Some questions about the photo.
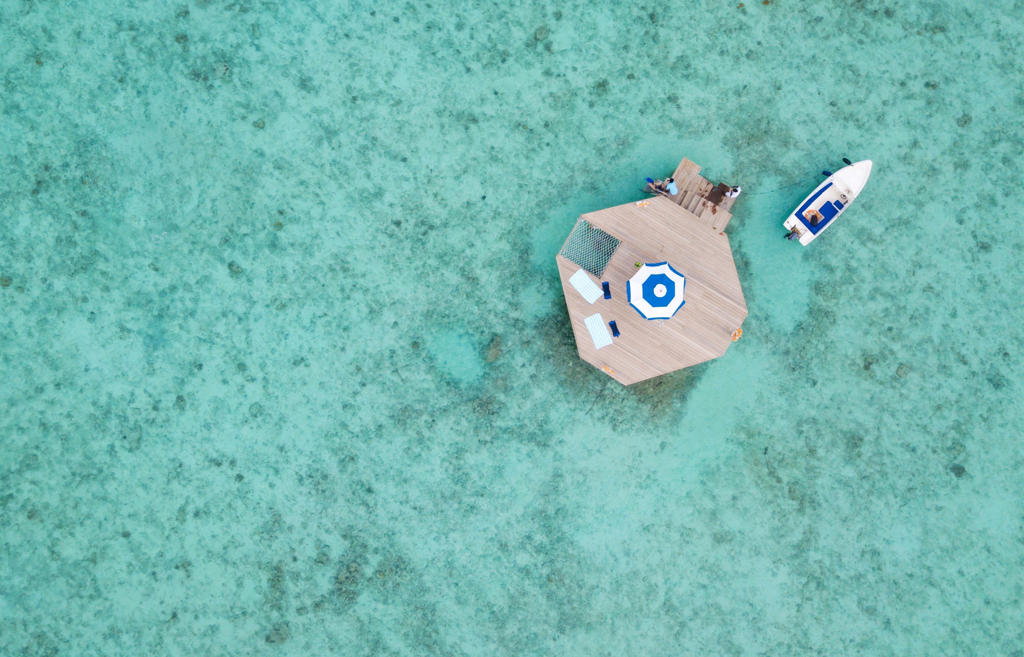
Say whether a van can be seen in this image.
No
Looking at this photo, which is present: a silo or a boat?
boat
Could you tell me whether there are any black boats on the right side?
No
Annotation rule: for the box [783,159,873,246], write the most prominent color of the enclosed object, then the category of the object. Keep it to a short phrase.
white boat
